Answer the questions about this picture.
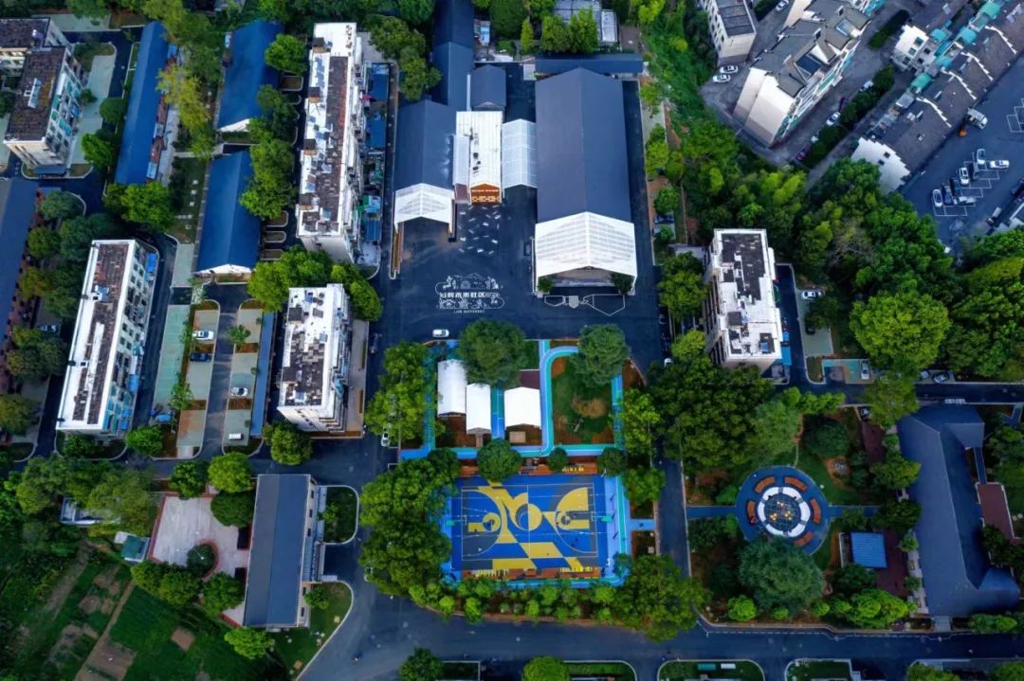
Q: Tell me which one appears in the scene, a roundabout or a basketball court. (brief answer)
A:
basketball court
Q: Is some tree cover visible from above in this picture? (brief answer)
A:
Yes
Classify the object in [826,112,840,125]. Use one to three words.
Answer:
vehicle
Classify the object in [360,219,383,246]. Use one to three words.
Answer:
shed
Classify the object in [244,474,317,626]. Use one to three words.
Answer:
building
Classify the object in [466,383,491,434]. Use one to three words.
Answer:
tent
